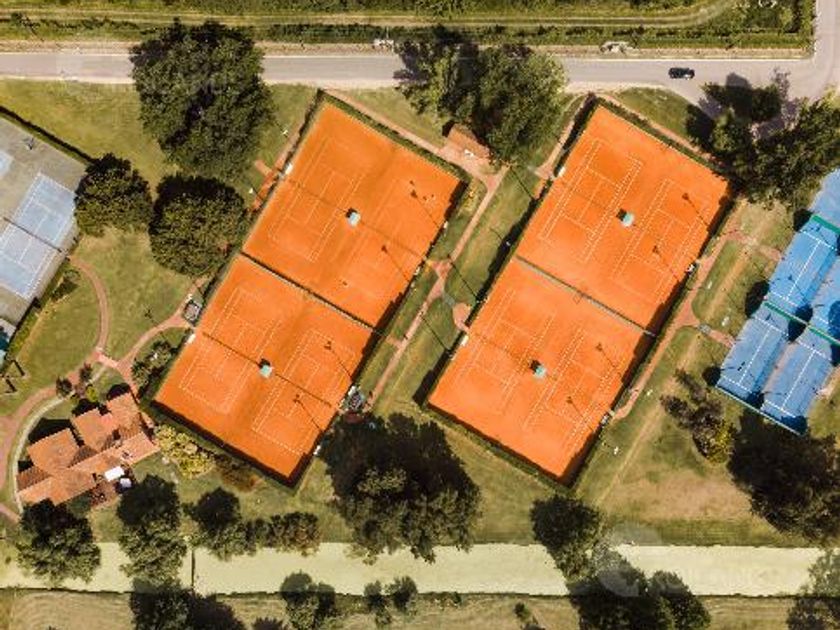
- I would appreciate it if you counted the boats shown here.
0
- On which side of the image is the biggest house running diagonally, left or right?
left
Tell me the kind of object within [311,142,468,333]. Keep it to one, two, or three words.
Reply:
tennis court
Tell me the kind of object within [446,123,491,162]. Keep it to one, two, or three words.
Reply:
shed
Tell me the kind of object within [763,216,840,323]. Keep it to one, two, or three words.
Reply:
sports court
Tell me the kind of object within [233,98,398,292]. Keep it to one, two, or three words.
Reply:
tennis court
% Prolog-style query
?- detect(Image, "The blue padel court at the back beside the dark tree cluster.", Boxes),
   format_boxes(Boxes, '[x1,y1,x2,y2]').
[808,161,840,233]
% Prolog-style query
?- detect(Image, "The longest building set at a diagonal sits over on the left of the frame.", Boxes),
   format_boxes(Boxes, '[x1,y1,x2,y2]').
[14,387,165,514]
